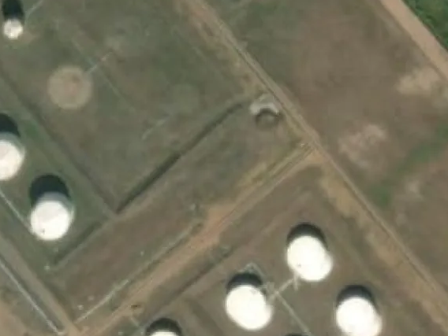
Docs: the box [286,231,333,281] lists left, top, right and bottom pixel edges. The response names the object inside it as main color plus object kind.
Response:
white storage tank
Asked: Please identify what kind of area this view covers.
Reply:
industrial area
